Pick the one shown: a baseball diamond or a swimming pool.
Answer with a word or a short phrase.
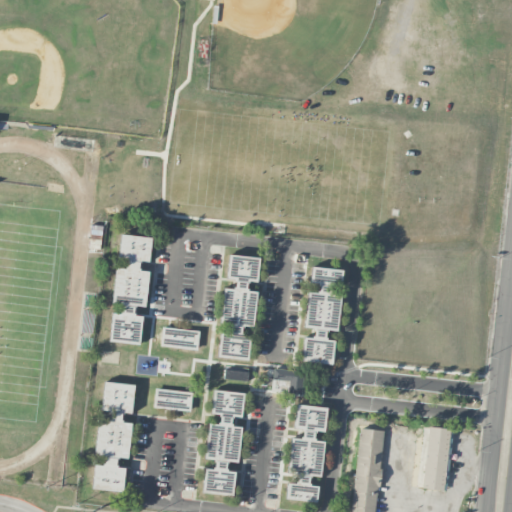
baseball diamond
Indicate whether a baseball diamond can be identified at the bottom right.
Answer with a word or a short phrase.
No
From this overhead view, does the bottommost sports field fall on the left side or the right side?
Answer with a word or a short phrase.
left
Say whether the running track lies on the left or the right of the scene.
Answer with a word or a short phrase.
left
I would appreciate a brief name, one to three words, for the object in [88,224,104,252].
shed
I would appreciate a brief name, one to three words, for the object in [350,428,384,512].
building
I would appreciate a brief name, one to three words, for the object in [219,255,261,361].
building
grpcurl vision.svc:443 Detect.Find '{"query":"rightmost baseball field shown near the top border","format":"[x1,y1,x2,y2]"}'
[209,0,378,100]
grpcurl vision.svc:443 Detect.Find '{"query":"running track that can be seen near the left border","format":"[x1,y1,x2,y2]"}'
[0,137,99,486]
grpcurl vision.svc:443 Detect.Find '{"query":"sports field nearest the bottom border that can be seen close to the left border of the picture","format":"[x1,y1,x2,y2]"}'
[0,203,62,424]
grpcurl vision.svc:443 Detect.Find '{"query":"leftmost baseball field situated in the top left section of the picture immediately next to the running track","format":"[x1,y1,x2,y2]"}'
[0,28,65,110]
